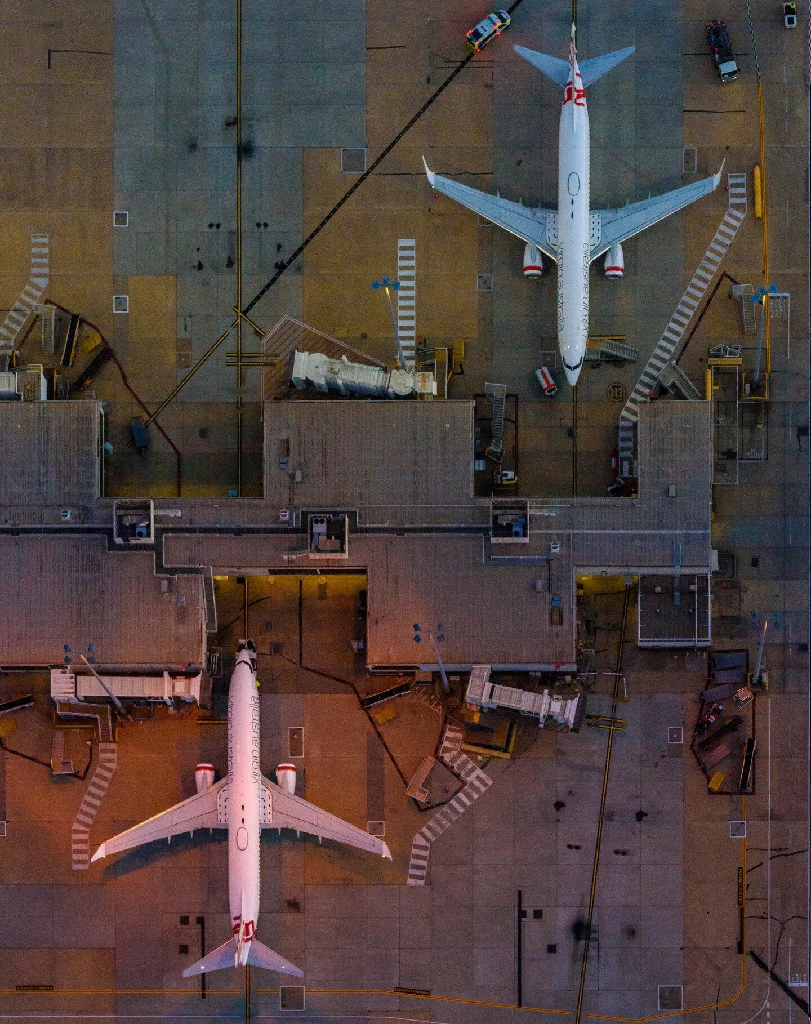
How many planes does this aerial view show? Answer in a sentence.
Altogether the scene contains 2 planes.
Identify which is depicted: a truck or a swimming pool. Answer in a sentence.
Visible in the photo is a truck.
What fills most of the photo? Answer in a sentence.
Most of the picture is covered by paved ground.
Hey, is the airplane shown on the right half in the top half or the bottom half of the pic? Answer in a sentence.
You can find the airplane shown on the right half in the top half.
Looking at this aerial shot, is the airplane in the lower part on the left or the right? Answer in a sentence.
It is on the left.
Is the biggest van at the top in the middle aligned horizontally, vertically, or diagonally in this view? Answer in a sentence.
The biggest van at the top in the middle is laid out diagonally.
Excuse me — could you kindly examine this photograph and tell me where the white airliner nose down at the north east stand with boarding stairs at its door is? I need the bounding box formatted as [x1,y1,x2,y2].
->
[422,24,724,386]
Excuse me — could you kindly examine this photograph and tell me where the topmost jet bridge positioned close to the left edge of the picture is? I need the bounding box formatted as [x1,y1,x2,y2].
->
[0,372,50,402]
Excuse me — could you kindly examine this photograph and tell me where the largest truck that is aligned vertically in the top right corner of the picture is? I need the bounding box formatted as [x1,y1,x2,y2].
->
[705,19,737,82]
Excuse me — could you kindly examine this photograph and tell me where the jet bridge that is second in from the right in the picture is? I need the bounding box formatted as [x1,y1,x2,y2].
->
[287,351,437,402]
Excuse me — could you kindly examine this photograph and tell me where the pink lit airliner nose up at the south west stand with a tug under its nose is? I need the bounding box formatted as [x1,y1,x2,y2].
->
[88,648,390,976]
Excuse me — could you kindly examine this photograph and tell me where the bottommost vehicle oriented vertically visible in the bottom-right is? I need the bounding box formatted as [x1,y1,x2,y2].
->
[736,738,754,789]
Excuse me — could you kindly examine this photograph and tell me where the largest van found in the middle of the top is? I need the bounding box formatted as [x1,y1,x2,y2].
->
[466,11,512,56]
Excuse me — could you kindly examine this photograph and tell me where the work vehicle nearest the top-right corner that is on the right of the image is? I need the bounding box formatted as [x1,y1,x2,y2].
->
[784,2,797,29]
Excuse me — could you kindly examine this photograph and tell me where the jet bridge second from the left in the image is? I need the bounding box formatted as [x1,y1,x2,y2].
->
[51,666,214,711]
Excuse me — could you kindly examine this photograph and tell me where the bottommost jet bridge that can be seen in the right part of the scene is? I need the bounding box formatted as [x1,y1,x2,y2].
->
[466,665,588,731]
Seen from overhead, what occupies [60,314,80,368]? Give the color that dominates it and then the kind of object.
black work vehicle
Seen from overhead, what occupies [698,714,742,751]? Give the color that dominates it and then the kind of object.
black work vehicle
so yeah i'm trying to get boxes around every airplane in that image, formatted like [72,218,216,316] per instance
[88,648,390,976]
[422,24,724,386]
